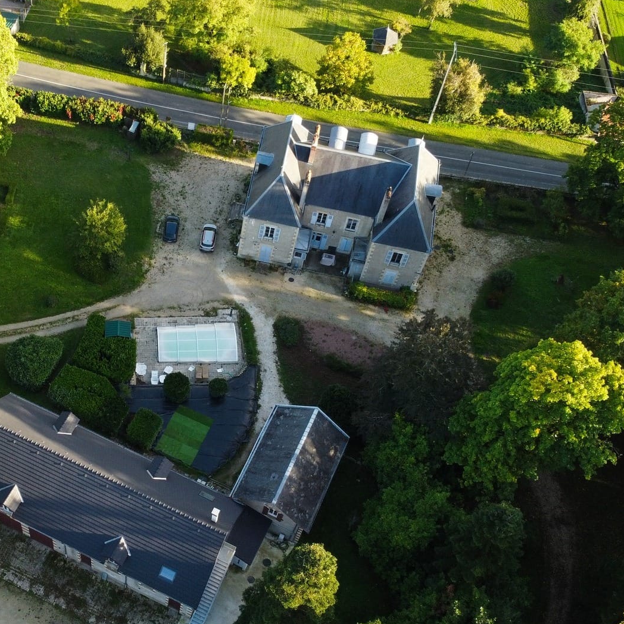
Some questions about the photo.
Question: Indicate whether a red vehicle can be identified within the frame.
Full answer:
No, there is no red vehicle in the image.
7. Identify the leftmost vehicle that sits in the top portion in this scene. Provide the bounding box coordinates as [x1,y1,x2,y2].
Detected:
[163,213,181,241]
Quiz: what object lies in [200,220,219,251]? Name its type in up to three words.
car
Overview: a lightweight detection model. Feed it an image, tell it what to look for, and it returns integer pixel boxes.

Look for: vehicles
[163,213,181,241]
[200,220,219,251]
